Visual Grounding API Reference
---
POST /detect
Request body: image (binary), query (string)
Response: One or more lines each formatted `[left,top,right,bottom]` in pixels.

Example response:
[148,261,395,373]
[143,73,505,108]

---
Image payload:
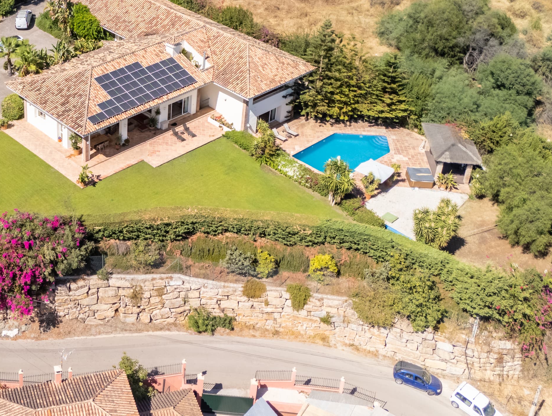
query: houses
[3,0,317,161]
[0,362,141,416]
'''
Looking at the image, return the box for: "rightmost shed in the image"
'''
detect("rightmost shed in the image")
[416,120,483,189]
